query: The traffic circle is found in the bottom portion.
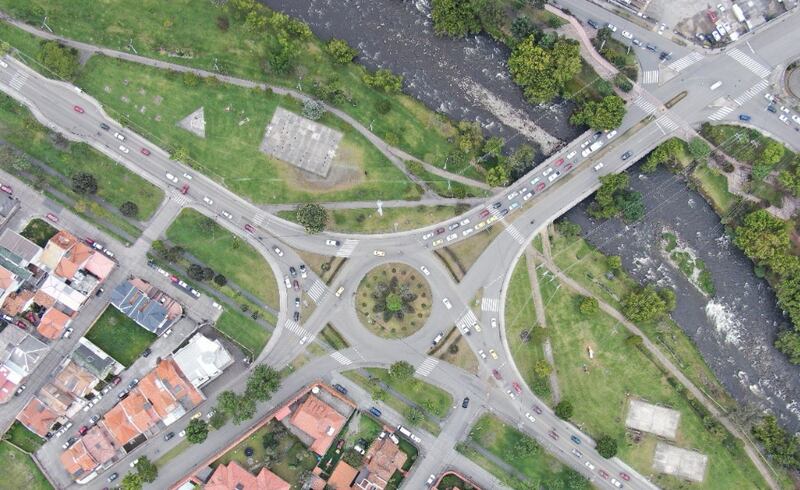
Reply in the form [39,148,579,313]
[337,244,451,358]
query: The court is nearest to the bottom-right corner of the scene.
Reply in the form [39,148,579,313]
[652,443,707,482]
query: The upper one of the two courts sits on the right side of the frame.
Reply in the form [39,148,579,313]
[626,399,680,438]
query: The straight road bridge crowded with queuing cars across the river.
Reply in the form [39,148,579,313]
[495,121,658,240]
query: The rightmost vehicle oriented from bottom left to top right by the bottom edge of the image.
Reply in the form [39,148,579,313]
[425,471,438,488]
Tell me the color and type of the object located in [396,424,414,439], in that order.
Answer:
white vehicle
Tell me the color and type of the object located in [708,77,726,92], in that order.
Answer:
white vehicle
